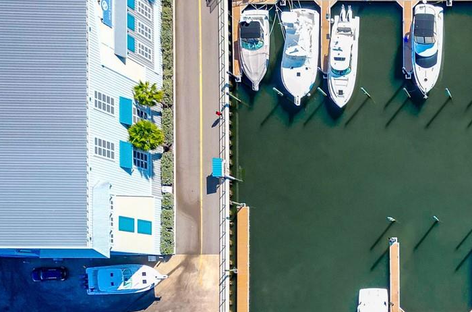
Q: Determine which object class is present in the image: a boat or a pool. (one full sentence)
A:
It is a boat that can be seen here.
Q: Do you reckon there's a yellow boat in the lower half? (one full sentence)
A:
No, no yellow boat is visible in the lower half.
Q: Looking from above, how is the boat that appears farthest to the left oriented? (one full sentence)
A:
Seen from above, the boat that appears farthest to the left lies from left to right.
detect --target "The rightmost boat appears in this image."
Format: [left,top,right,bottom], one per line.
[411,2,445,100]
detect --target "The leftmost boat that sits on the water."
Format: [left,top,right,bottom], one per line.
[240,7,272,90]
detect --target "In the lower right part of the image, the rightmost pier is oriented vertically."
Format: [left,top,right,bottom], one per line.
[390,241,406,312]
